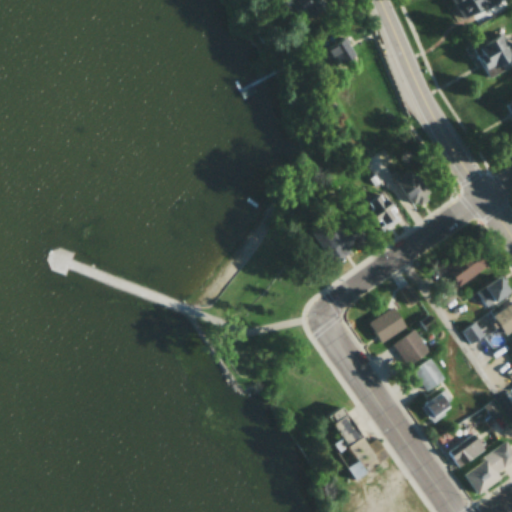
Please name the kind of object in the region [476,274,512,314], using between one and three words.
house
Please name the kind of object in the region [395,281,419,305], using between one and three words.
building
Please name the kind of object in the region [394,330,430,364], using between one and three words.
house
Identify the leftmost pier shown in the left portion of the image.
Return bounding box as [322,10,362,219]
[48,248,203,319]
